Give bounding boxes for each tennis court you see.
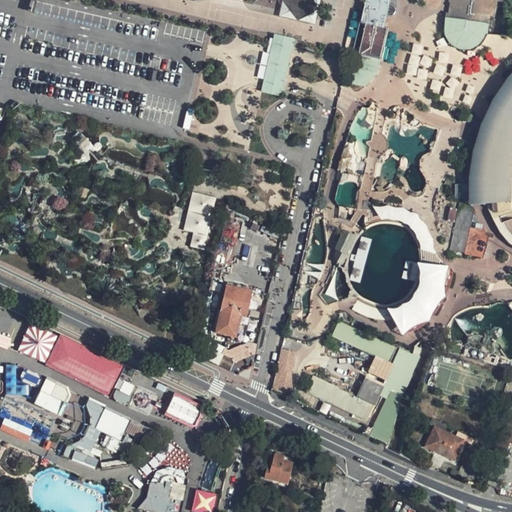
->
[428,360,494,400]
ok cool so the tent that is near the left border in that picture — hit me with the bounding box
[18,327,58,364]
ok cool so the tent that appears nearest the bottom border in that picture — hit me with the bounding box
[191,490,217,512]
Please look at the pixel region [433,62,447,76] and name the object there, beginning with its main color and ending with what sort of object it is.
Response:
white umbrella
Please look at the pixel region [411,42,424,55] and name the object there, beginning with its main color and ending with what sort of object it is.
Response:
white umbrella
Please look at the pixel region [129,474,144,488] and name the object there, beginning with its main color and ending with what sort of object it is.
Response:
white vehicle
